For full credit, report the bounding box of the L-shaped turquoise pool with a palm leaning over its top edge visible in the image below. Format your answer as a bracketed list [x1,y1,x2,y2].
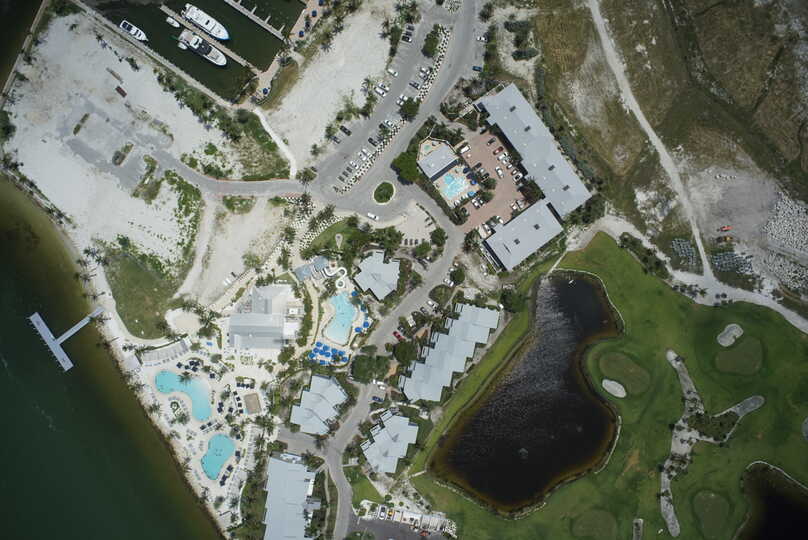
[153,369,214,423]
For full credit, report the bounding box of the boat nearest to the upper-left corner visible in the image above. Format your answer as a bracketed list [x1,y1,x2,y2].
[120,19,148,40]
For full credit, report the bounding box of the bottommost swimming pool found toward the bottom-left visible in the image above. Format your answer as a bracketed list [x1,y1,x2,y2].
[199,433,238,482]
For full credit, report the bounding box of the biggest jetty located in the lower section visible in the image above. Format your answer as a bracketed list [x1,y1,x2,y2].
[26,306,103,373]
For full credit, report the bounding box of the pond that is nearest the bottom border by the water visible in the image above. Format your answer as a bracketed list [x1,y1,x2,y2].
[733,465,808,540]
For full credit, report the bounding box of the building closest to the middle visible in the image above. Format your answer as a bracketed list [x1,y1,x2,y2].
[354,252,400,301]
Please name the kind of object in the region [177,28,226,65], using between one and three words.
boat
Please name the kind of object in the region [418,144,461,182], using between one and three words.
building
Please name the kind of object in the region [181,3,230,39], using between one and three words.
boat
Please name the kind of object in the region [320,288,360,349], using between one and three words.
swimming pool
